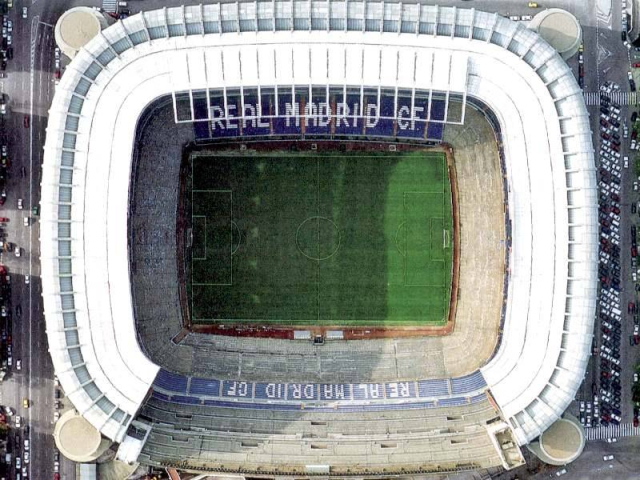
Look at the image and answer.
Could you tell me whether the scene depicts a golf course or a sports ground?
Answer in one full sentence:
This image shows a sports ground.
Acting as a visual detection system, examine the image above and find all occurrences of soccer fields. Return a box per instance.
[176,139,459,339]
